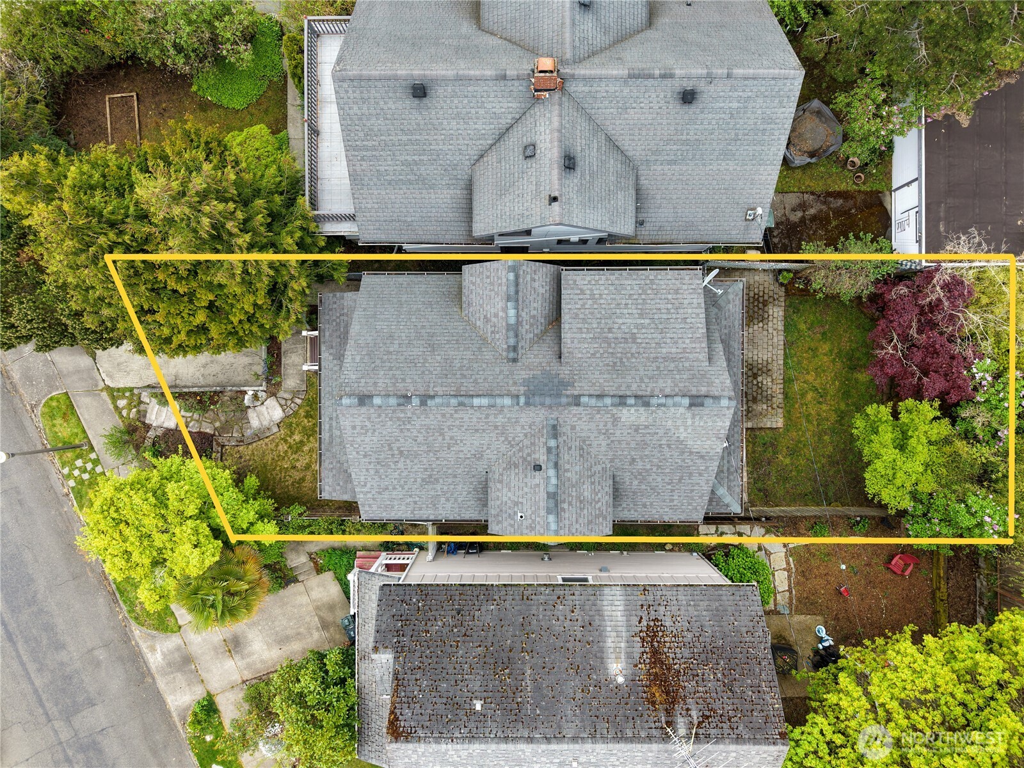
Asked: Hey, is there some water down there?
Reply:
No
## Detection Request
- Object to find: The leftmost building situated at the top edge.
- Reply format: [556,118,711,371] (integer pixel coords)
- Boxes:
[305,0,807,256]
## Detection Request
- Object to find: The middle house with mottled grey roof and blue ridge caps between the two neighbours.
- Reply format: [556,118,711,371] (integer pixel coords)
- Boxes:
[302,258,747,553]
